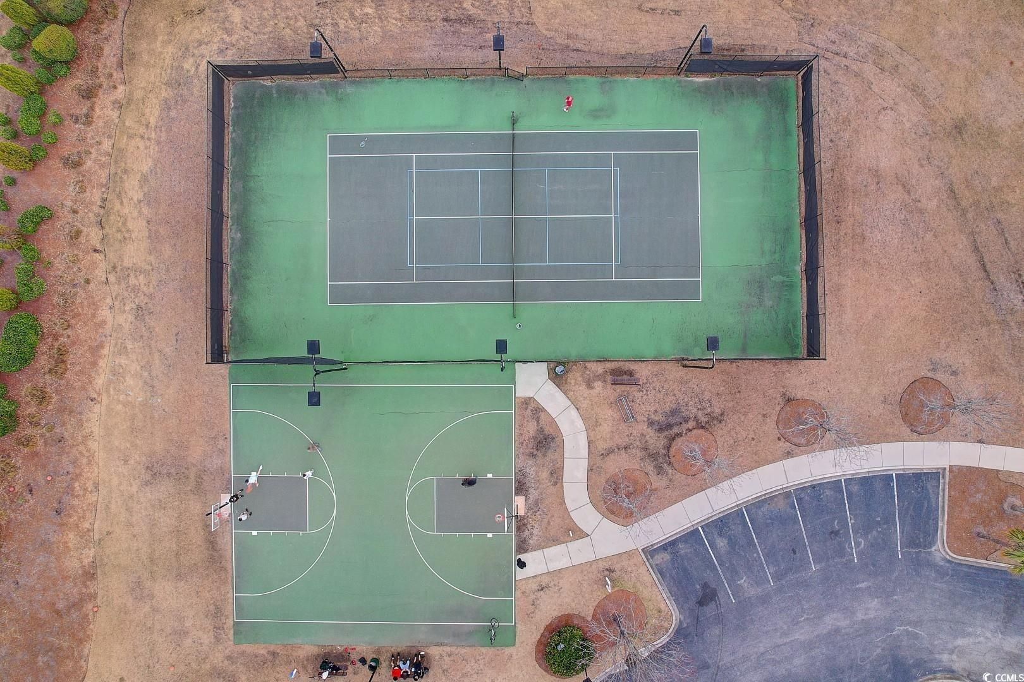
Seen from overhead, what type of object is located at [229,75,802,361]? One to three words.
tennis court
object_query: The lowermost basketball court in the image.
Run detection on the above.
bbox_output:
[229,362,516,647]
